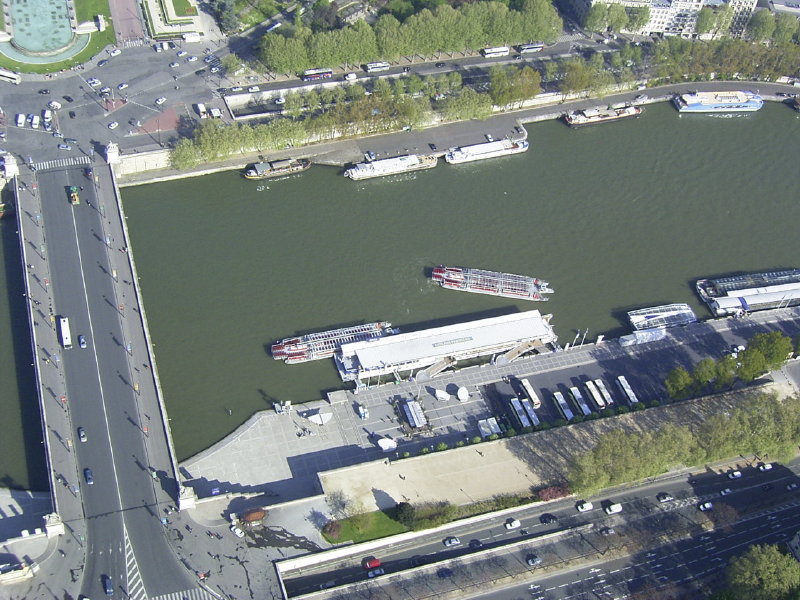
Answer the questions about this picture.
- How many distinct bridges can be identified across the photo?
1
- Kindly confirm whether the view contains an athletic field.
No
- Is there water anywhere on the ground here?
Yes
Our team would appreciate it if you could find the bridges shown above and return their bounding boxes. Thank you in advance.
[12,163,177,523]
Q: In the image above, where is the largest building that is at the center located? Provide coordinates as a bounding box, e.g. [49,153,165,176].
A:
[341,311,560,382]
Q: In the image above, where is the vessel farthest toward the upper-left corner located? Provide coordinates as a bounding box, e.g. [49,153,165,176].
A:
[241,159,323,180]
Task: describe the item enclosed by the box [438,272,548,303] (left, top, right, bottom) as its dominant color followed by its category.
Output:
white boat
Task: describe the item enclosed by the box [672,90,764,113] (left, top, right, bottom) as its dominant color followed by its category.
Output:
white vessel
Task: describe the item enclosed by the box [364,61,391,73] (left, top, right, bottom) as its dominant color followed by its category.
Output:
white vehicle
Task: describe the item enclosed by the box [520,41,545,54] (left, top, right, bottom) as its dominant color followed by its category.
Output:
white vehicle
